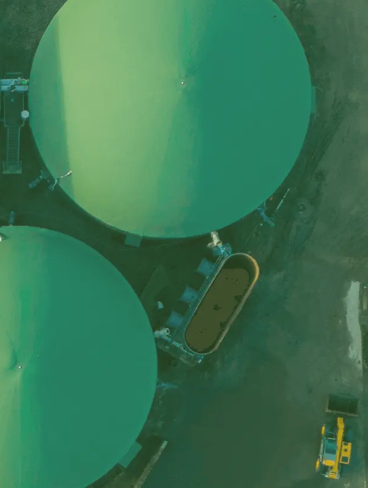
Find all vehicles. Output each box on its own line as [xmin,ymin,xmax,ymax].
[315,395,361,482]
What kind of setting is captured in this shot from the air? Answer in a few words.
industrial area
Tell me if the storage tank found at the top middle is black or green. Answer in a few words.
green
